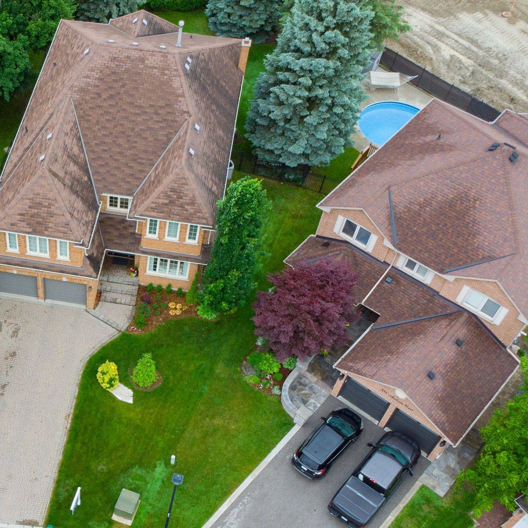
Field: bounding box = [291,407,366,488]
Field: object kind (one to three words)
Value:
car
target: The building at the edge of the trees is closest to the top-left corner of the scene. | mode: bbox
[0,4,260,312]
